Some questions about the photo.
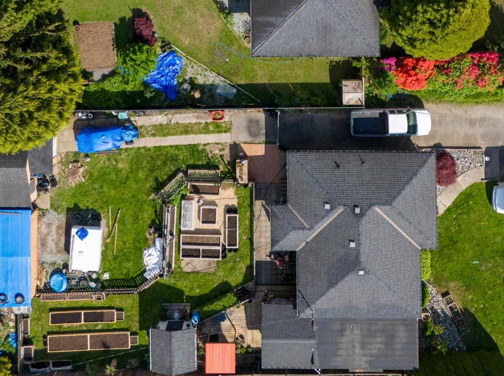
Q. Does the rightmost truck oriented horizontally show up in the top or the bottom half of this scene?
top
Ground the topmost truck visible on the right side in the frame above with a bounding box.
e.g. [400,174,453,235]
[348,103,431,138]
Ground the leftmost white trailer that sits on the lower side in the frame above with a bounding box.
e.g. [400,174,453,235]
[72,206,109,273]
